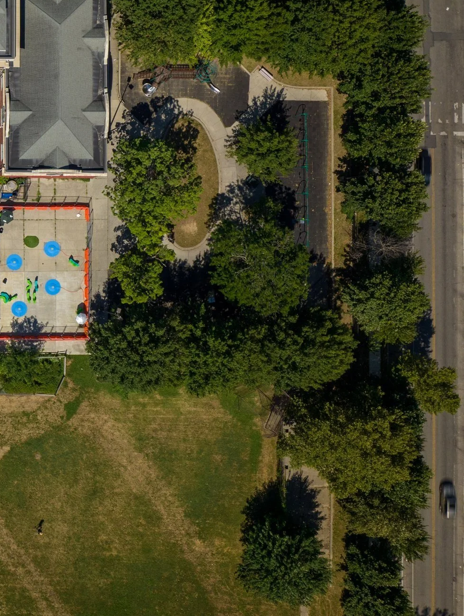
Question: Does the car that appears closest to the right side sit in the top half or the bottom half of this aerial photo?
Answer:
bottom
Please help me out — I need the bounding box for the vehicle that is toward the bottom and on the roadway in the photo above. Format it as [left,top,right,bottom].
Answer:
[442,486,462,520]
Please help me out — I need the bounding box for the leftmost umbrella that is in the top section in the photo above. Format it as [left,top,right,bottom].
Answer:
[0,211,13,226]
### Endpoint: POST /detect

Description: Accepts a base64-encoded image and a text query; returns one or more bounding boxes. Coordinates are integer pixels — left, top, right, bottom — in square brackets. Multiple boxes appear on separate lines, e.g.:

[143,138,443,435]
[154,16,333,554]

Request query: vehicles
[442,486,462,520]
[419,152,437,187]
